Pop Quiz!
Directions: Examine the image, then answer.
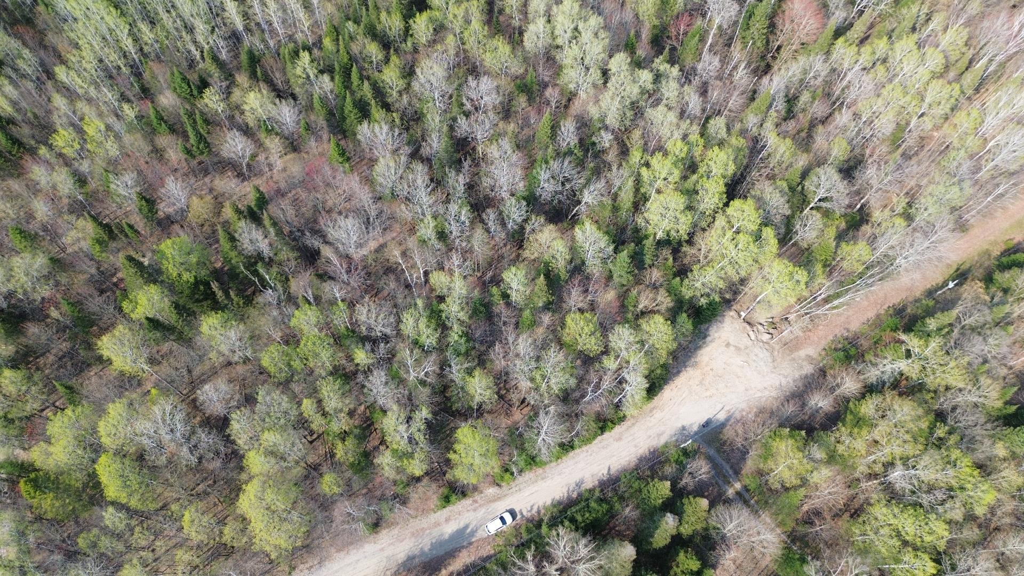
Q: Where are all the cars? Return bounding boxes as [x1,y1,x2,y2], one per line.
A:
[485,512,513,536]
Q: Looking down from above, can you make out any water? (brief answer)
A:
No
